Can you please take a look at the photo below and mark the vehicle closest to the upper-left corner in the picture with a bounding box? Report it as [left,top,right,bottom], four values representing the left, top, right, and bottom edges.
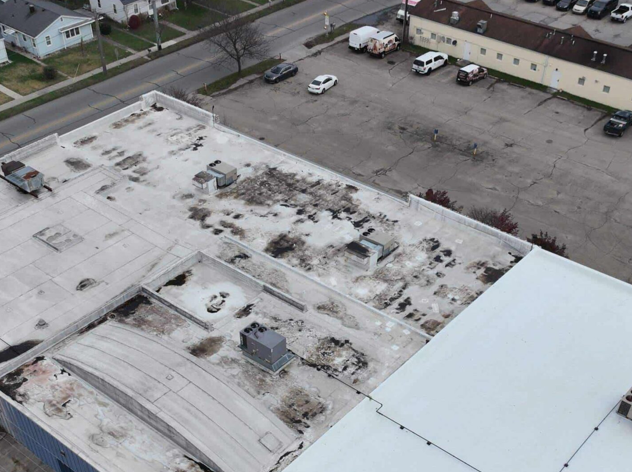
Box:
[264,62,300,83]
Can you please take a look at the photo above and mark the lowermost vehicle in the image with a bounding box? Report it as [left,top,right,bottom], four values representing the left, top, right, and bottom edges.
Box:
[602,108,632,133]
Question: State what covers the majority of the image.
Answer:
buildings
